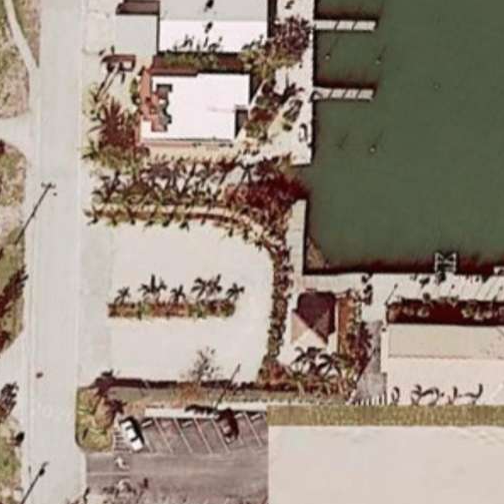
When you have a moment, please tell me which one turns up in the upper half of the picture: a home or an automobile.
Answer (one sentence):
Looking in the upper half of the picture, you will find a home.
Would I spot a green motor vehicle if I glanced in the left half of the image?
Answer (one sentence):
No, I see no green motor vehicle in the left half of the image.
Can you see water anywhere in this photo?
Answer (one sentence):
Yes, the picture does contain water.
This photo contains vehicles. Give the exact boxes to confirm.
[220,412,239,440]
[120,420,144,451]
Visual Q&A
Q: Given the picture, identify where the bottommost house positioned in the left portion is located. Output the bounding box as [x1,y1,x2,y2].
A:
[140,70,250,148]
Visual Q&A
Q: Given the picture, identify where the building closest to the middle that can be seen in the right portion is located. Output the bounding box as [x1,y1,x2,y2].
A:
[291,309,327,345]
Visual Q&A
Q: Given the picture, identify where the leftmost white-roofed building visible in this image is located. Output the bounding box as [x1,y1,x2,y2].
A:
[114,15,157,55]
